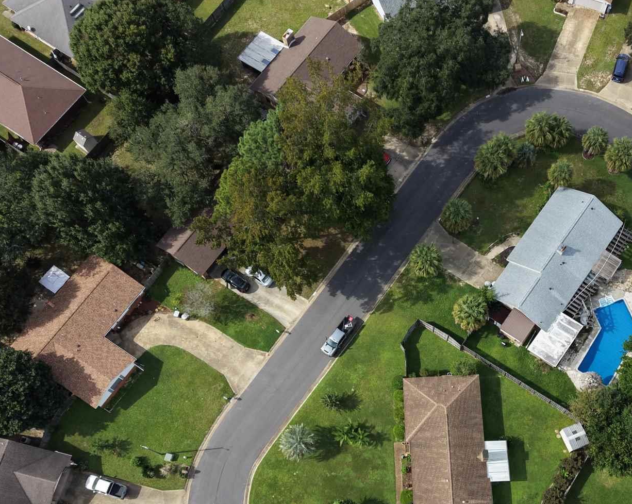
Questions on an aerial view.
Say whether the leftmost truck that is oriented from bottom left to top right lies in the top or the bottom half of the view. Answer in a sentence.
You can find the leftmost truck that is oriented from bottom left to top right in the bottom half.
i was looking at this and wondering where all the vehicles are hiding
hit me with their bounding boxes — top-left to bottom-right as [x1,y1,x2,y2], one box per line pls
[84,474,131,499]
[321,312,360,357]
[220,267,252,295]
[611,57,631,85]
[242,264,275,290]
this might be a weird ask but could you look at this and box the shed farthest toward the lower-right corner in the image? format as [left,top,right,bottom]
[559,423,590,452]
